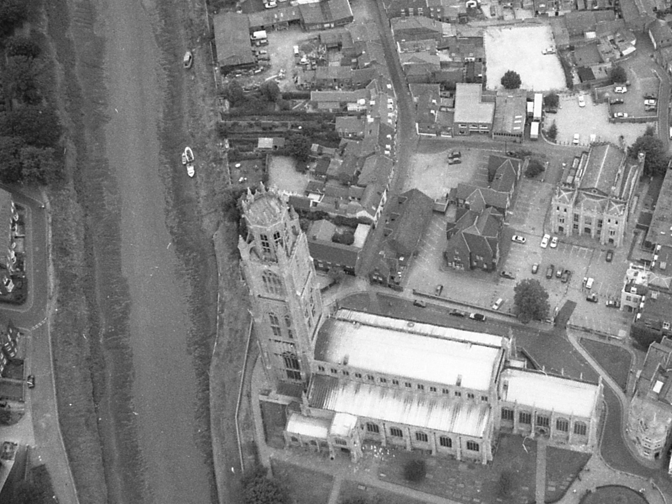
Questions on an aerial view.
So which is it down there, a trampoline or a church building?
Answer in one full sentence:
The image shows a church building.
